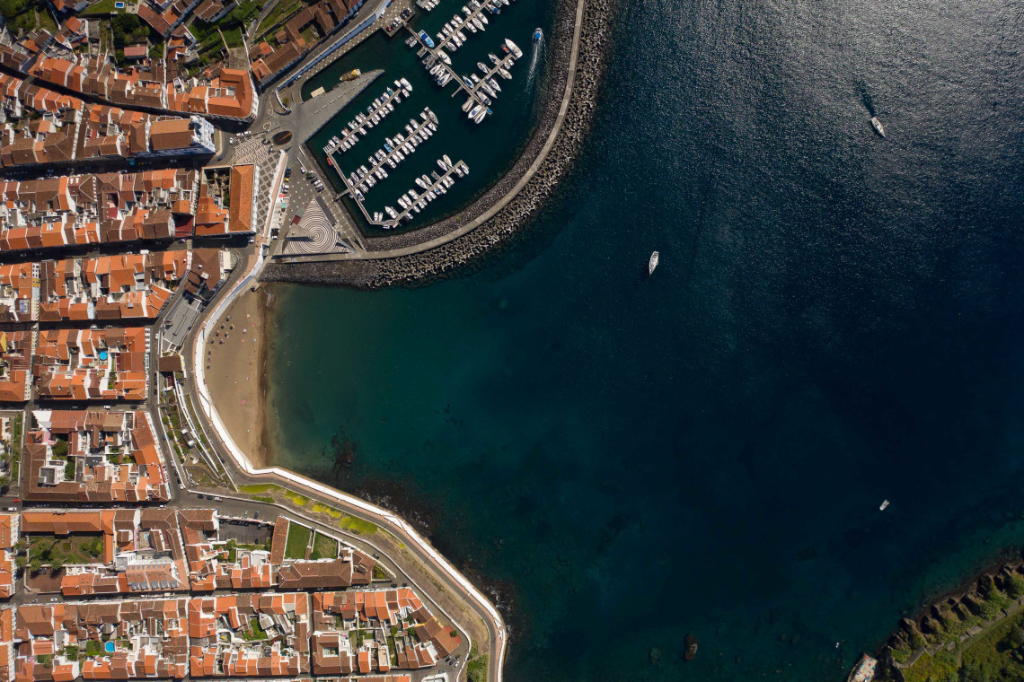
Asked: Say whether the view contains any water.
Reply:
Yes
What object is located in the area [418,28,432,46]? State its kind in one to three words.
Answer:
boat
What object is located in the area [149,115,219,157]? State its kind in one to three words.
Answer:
building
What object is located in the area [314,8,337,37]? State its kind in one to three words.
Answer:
house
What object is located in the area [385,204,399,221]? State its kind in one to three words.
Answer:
boat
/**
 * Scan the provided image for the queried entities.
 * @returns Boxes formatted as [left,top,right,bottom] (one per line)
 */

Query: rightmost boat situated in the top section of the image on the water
[870,116,887,135]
